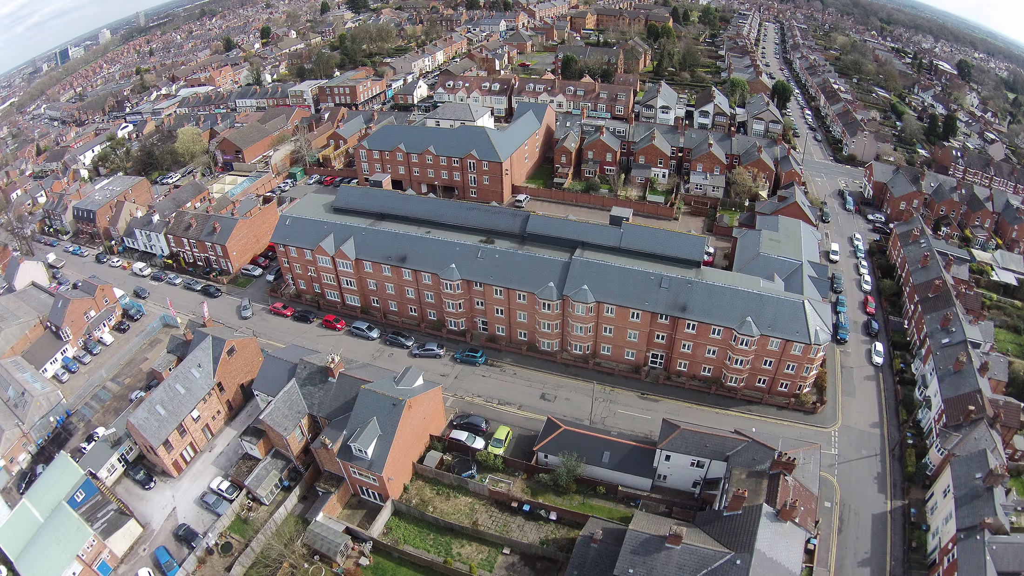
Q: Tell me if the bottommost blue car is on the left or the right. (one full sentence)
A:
It is on the left.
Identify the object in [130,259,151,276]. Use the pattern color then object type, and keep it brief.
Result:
white vehicle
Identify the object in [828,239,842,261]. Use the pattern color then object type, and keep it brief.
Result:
white vehicle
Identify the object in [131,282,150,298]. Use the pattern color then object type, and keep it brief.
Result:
gray car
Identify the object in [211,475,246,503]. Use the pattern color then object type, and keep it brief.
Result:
white car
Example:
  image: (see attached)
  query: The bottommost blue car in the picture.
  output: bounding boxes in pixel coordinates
[147,544,182,576]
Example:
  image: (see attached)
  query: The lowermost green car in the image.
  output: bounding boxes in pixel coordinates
[489,425,512,454]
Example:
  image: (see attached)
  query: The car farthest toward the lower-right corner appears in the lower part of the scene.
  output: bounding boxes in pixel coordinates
[869,342,885,364]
